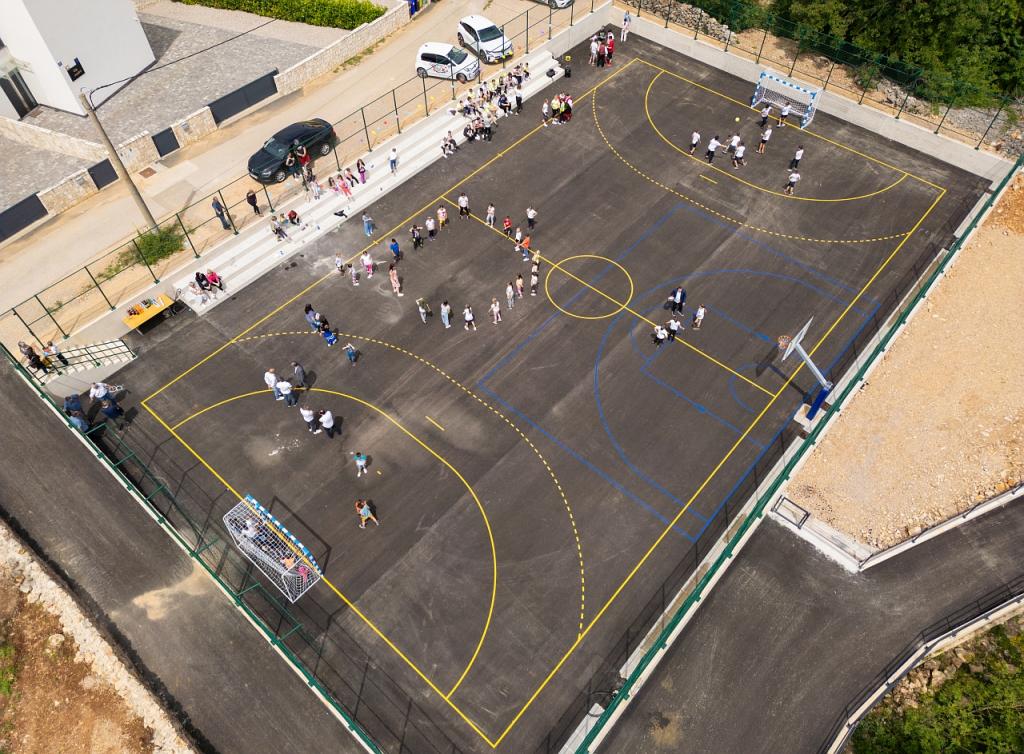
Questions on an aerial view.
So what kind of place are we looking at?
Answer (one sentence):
The picture captures a sports ground.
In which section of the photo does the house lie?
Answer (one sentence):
The house appears toward the top left of the photo.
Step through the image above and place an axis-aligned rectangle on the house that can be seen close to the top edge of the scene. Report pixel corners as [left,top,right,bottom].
[0,0,154,121]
